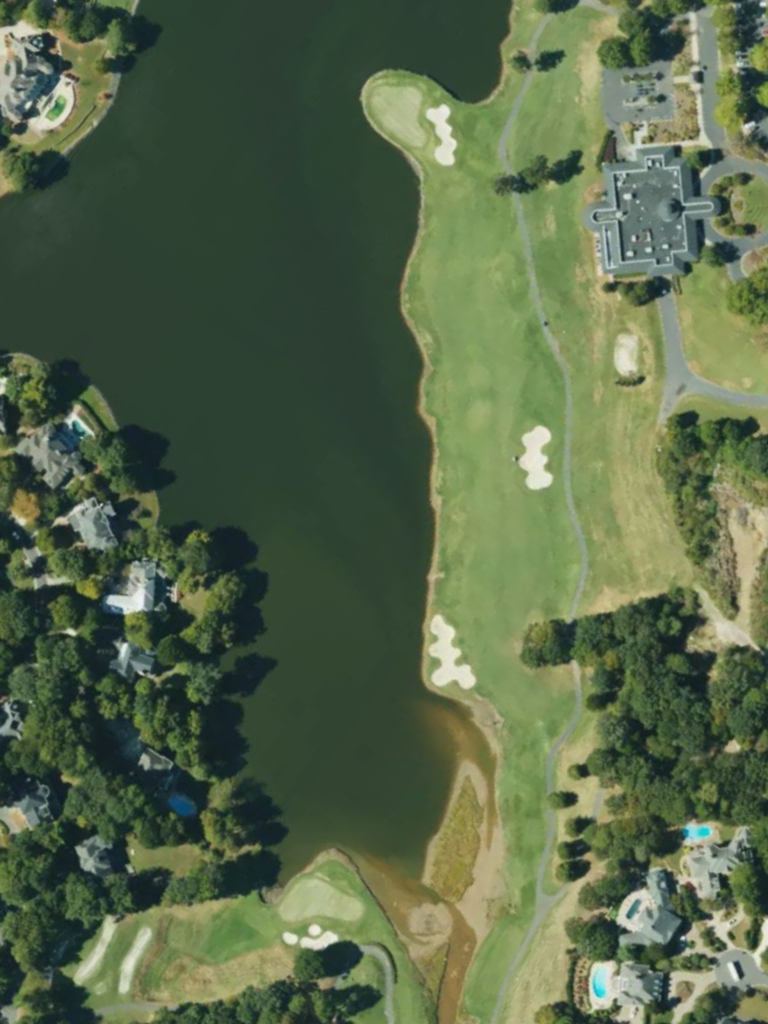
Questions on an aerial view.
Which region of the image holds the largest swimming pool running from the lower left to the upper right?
top left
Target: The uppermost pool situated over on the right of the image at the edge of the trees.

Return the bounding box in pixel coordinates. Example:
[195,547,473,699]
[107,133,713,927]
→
[682,824,712,841]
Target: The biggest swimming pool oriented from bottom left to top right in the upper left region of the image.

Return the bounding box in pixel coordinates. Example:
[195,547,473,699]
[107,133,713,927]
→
[46,94,67,121]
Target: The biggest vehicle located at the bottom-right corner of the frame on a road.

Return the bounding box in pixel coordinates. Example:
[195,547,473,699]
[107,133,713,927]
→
[727,961,740,981]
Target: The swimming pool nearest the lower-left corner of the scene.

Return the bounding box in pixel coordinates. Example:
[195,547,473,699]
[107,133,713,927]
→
[167,794,197,818]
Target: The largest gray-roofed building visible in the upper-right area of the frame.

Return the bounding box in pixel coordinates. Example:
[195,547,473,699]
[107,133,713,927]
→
[583,146,721,276]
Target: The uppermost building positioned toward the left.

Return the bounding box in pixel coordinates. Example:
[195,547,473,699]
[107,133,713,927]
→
[1,39,59,126]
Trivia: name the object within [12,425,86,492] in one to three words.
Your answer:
house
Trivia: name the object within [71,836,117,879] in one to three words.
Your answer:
house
